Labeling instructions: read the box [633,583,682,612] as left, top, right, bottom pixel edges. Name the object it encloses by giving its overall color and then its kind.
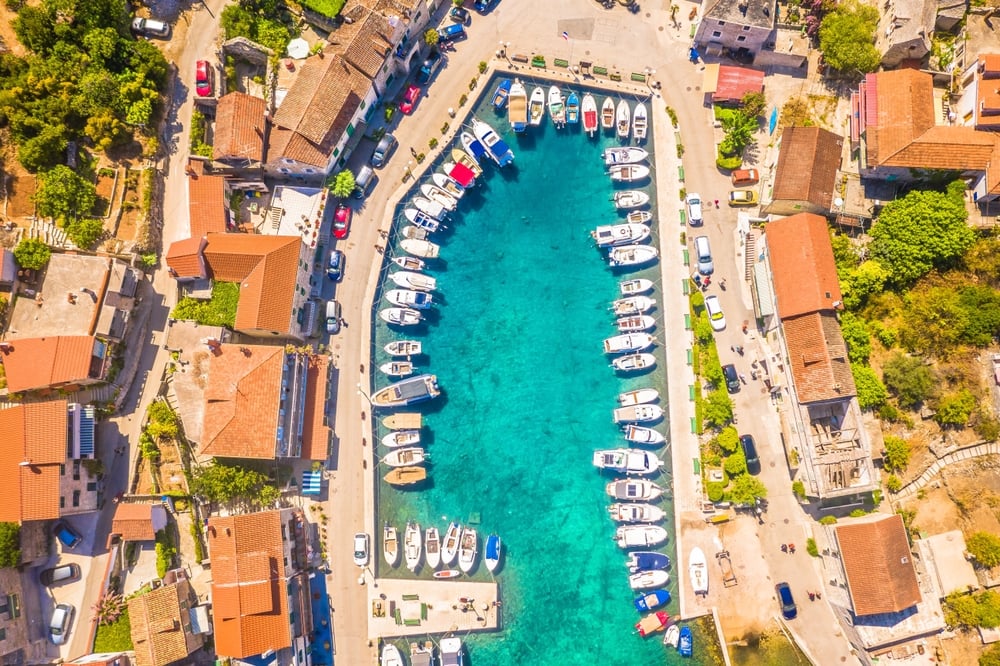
blue boat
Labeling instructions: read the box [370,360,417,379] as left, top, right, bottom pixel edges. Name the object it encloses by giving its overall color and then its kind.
white boat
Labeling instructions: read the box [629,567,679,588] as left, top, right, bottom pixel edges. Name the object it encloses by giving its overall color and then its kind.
white boat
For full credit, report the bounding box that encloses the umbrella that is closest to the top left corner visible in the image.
[288,39,309,61]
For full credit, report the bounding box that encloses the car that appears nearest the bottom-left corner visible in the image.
[49,601,77,645]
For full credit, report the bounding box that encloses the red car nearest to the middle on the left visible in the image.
[333,204,353,238]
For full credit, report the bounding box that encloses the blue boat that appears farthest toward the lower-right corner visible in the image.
[675,620,692,656]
